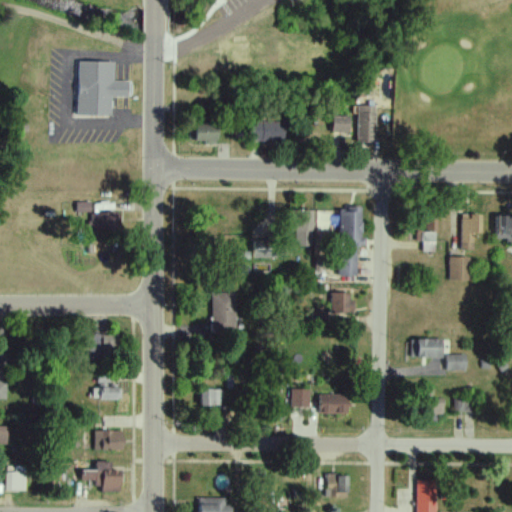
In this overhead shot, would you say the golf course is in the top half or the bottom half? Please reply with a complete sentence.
Seen from above, the golf course lies in the top half of the view.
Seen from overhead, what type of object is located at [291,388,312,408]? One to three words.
house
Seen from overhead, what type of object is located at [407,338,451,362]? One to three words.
house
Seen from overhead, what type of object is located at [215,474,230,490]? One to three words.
swimming pool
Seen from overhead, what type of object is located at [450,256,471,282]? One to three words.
building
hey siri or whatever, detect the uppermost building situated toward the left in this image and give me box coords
[77,60,133,115]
